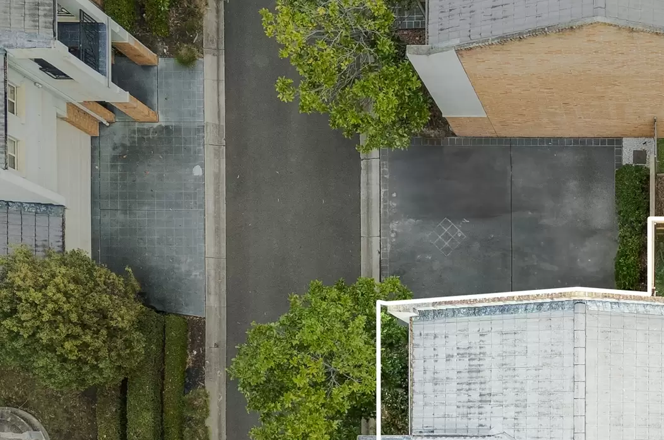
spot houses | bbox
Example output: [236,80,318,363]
[0,0,130,280]
[356,300,664,440]
[405,0,664,136]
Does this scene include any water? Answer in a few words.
No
